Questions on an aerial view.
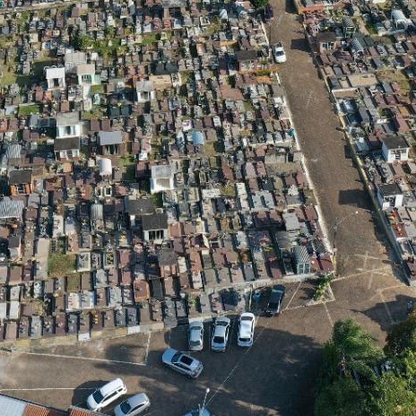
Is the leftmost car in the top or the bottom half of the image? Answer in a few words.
bottom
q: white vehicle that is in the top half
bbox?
[272,44,285,61]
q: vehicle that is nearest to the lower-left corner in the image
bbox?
[86,376,128,413]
